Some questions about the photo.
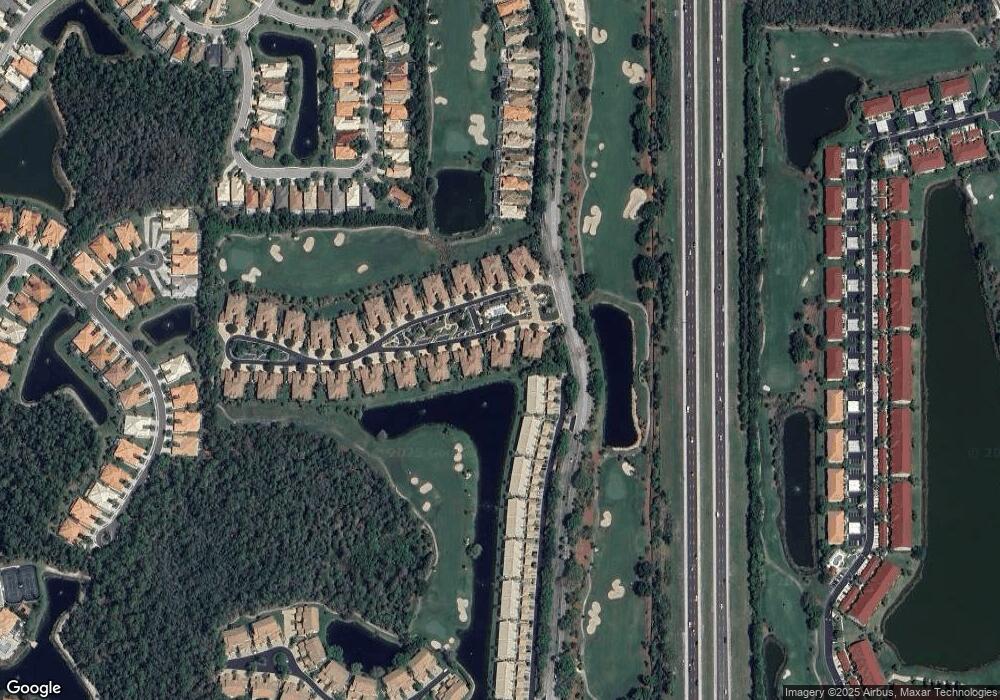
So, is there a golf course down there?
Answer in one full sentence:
Yes, the photo shows a golf course.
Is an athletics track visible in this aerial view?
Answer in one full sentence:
No, the scene contains no athletics track.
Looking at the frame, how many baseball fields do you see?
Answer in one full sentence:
The photo contains no baseball fields.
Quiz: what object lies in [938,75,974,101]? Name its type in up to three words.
building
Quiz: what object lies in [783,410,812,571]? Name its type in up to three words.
pond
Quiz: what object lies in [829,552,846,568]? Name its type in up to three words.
swimming pool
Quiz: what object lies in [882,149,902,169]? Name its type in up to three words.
swimming pool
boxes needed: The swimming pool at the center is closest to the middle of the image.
[486,304,509,318]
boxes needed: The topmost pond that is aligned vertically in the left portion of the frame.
[260,32,318,159]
